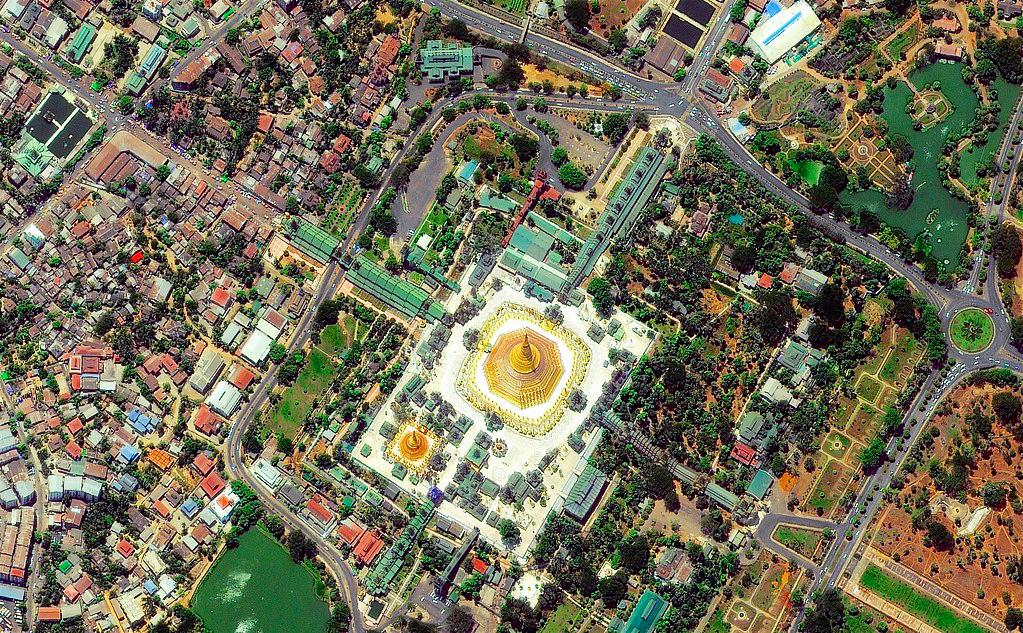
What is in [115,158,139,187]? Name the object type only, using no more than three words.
shed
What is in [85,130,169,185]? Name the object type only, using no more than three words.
building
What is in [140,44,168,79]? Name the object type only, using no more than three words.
house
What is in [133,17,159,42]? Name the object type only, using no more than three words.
house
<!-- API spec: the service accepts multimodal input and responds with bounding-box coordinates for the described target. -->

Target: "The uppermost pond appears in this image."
[660,0,718,52]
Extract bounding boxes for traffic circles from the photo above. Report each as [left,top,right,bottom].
[949,308,995,354]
